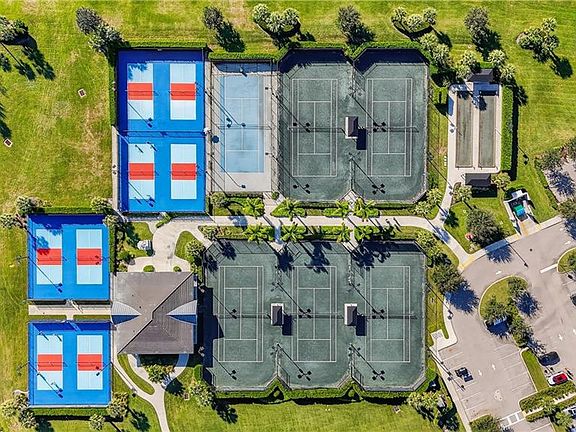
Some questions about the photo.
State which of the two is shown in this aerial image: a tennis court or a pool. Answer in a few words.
tennis court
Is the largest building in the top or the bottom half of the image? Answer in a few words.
bottom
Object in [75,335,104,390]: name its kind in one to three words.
sports court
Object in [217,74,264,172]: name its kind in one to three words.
tennis court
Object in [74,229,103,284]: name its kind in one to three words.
sports court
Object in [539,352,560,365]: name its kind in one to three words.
vehicle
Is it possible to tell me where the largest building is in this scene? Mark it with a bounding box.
[110,272,197,354]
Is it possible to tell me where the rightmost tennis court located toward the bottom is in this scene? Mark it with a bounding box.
[351,241,424,385]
